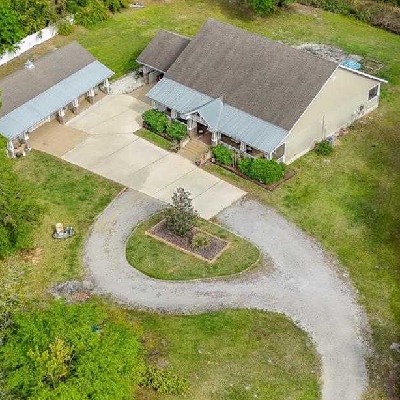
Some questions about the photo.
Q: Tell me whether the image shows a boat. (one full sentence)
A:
No, this view has no boat in it.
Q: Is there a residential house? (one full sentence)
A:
Yes, a residential house can be made out from above.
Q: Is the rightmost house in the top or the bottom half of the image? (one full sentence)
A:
Seen from above, the rightmost house lies in the top half of the view.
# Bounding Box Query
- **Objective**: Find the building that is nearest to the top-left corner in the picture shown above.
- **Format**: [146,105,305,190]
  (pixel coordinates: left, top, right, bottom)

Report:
[0,41,115,158]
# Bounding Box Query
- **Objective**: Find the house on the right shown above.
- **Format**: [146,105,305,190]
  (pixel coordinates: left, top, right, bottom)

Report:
[135,18,389,170]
